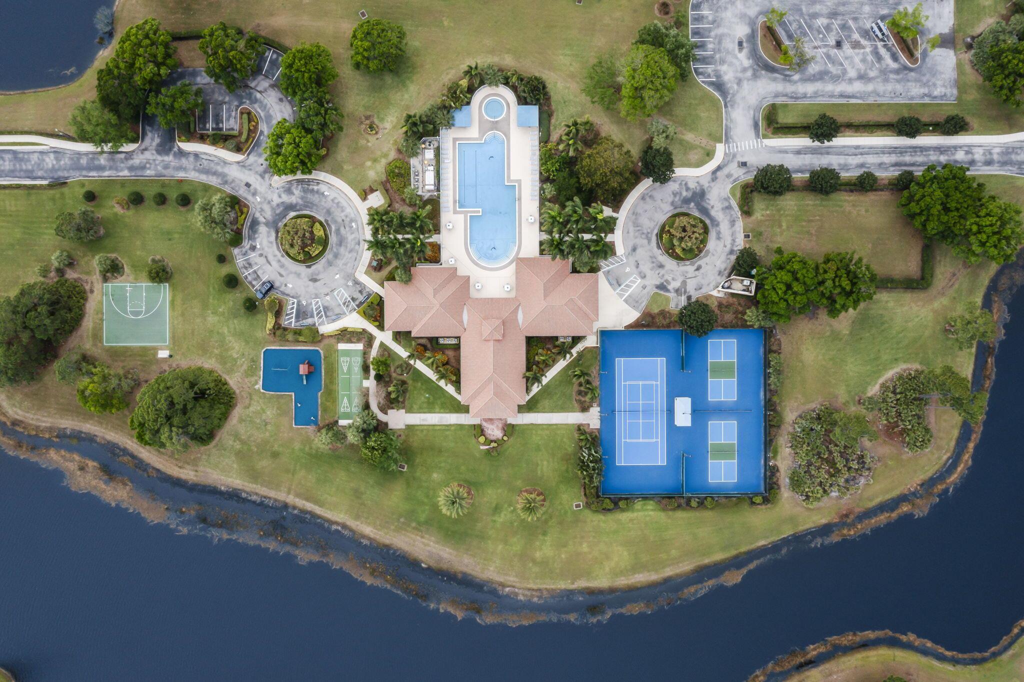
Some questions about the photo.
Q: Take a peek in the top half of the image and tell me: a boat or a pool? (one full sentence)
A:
Looking in the top half of the image, you will find a pool.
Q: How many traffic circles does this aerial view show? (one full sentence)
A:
Looking from above, you can make out 2 traffic circles.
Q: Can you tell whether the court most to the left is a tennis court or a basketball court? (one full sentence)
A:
The court most to the left is a basketball court.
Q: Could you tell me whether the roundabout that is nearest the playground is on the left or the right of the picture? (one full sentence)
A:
You can find the roundabout that is nearest the playground on the left side of the picture.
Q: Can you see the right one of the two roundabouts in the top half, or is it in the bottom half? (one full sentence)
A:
Seen from above, the right one of the two roundabouts lies in the top half of the view.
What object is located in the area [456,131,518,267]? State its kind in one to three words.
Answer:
swimming pool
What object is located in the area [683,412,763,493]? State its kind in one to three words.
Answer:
sports court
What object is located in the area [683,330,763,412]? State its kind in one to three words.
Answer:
sports court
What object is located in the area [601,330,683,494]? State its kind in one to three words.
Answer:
tennis court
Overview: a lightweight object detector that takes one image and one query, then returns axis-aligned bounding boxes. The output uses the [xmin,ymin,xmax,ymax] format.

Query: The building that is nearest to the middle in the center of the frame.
[384,257,599,418]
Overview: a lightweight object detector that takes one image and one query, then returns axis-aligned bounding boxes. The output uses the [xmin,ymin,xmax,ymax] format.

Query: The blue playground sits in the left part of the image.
[260,347,324,427]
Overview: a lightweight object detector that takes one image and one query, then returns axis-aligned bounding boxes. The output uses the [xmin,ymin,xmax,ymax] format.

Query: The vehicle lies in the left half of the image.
[255,280,275,299]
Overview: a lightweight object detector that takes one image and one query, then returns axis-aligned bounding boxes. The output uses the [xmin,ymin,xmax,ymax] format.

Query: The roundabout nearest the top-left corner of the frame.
[243,179,364,300]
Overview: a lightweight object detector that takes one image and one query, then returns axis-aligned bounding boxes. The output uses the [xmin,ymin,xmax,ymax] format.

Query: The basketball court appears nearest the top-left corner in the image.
[103,283,169,346]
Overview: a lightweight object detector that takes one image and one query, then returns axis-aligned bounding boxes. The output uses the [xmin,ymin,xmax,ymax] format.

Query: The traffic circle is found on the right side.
[623,176,742,297]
